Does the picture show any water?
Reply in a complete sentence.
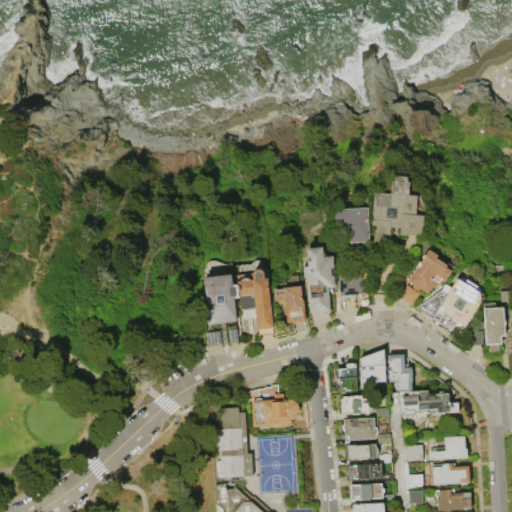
Yes, water shows up in the scene.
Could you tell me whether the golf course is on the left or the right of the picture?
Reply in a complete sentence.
The golf course appears in the left half of the scene.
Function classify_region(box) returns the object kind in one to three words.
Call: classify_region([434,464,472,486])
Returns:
house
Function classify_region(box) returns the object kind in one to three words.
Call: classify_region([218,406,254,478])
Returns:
building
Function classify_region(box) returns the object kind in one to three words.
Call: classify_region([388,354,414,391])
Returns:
house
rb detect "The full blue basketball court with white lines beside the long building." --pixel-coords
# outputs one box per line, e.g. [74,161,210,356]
[258,436,298,493]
